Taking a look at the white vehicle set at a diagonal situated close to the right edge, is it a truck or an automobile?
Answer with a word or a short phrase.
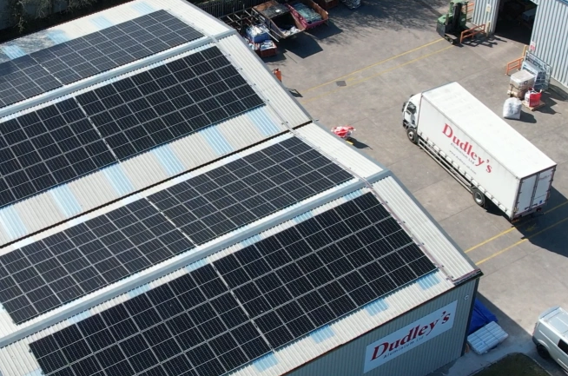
truck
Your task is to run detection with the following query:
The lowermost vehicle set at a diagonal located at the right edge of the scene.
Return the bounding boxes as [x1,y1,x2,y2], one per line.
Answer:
[396,81,558,221]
